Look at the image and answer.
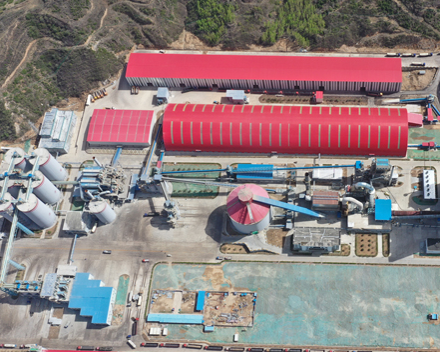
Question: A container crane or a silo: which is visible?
silo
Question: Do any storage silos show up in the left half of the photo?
Yes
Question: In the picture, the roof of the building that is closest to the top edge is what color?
red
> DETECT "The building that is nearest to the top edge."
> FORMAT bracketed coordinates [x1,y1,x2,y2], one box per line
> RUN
[124,53,403,92]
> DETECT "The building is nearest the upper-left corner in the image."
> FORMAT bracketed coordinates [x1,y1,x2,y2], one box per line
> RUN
[39,110,80,155]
